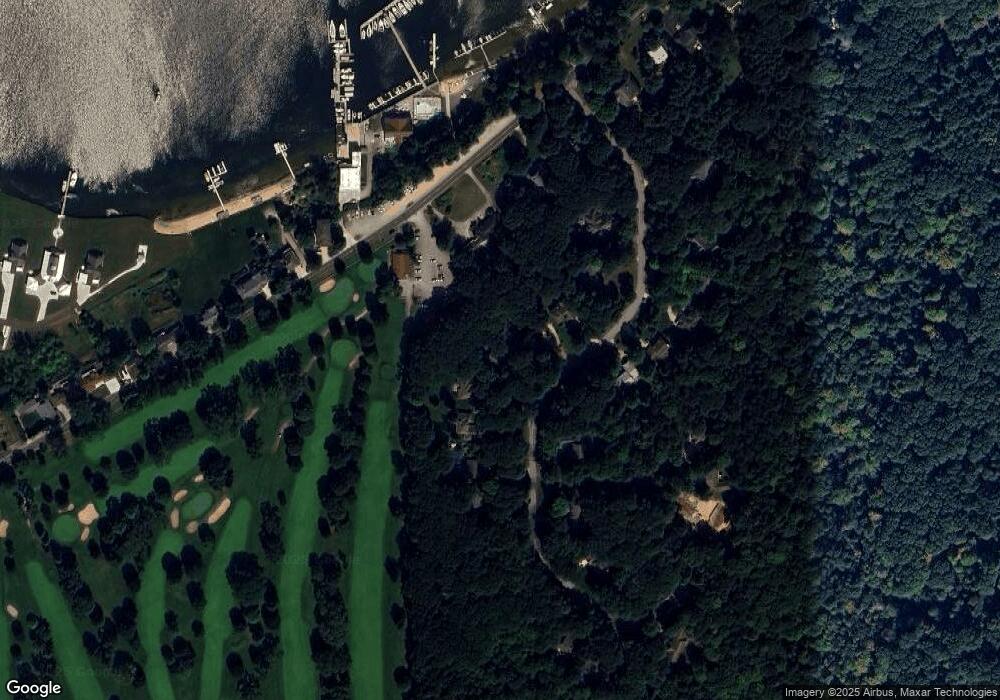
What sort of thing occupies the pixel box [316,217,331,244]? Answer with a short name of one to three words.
house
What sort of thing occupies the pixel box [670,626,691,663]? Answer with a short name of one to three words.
house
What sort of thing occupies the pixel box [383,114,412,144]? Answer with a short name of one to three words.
building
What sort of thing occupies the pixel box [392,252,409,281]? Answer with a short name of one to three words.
building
